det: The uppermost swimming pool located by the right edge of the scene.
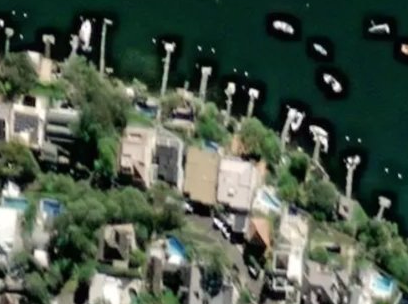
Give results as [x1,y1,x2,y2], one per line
[370,270,396,294]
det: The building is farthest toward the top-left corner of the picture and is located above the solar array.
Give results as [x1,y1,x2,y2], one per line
[26,52,52,83]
